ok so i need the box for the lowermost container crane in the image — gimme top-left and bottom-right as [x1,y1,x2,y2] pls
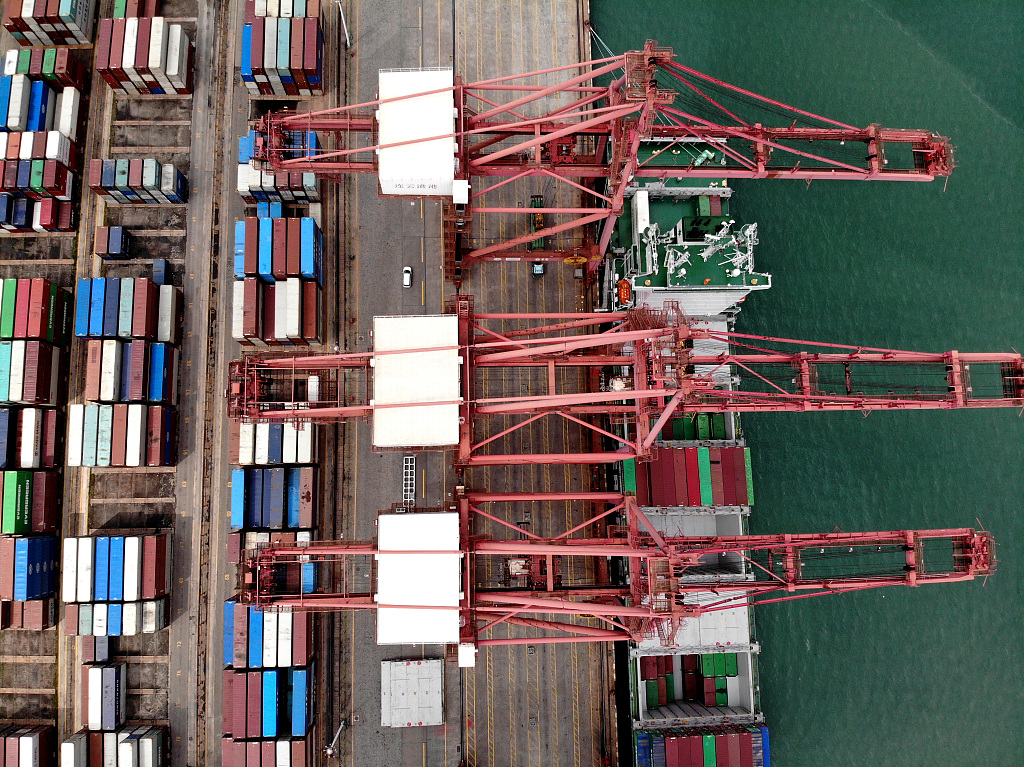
[236,466,1001,674]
